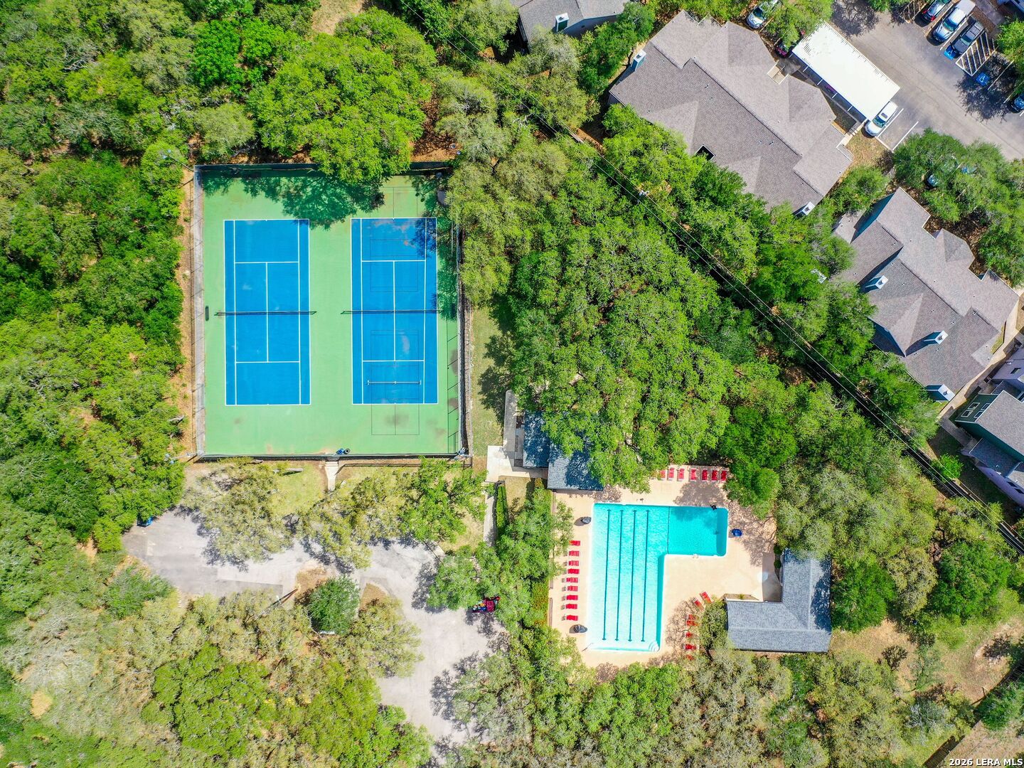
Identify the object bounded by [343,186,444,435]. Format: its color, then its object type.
blue tennis court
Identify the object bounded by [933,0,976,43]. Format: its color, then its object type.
white truck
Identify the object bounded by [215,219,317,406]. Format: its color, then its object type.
blue tennis court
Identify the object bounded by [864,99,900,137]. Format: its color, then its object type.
white car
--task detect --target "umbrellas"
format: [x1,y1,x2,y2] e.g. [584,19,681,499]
[573,625,589,635]
[730,527,743,536]
[578,517,594,526]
